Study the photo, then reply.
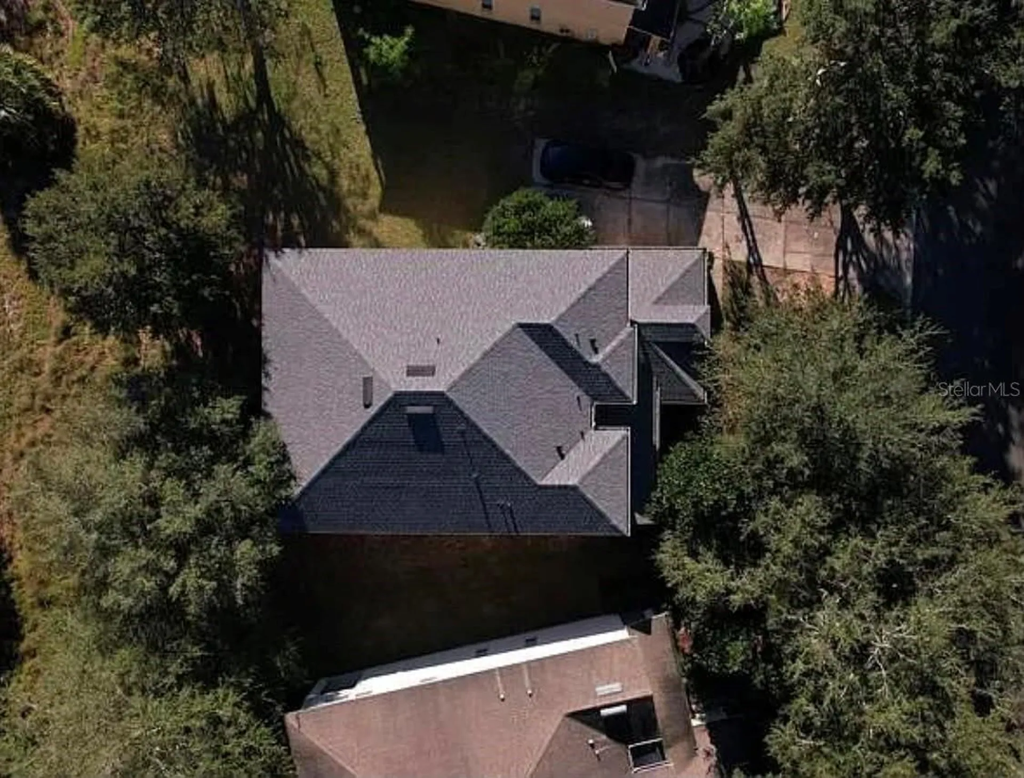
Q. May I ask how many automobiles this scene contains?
1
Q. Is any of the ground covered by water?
No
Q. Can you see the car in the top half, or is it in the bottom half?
top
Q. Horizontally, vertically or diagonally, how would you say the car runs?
horizontally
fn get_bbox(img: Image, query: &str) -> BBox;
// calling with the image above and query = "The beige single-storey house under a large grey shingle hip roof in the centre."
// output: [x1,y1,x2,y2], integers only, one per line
[261,246,714,537]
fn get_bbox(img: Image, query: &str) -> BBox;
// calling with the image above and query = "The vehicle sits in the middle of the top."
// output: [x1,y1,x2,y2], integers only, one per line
[538,133,640,186]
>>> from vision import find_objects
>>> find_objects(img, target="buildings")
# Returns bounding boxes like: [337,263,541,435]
[413,0,680,70]
[261,246,714,537]
[274,599,734,778]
